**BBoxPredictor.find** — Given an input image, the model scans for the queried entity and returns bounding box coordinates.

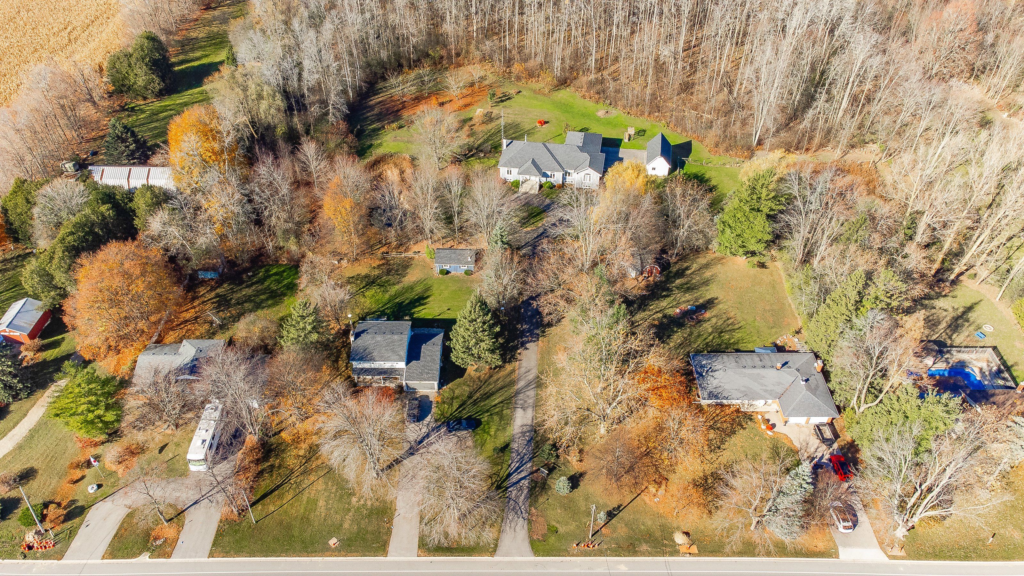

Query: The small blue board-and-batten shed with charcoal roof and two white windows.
[435,248,476,272]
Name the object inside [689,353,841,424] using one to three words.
house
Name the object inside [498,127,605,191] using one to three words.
house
